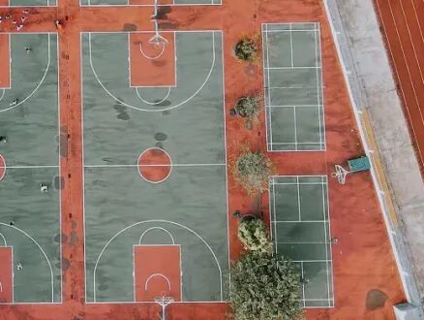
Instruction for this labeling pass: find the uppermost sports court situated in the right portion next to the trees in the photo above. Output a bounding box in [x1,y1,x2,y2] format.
[262,22,327,152]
